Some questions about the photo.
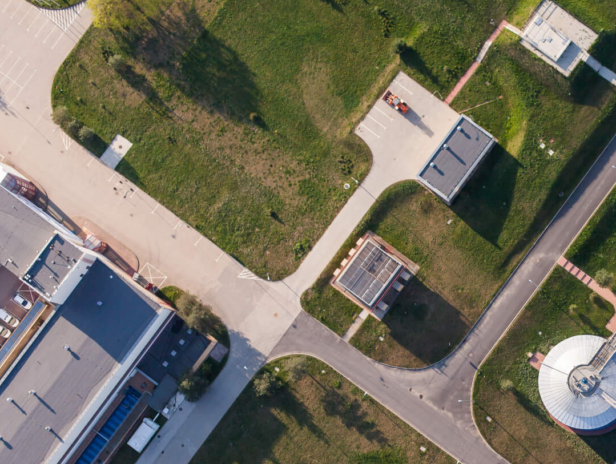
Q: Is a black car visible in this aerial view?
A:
No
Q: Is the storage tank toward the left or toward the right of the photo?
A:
right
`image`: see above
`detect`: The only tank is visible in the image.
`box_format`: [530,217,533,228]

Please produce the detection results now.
[538,335,616,436]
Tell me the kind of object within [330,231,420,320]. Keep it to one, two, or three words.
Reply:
house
